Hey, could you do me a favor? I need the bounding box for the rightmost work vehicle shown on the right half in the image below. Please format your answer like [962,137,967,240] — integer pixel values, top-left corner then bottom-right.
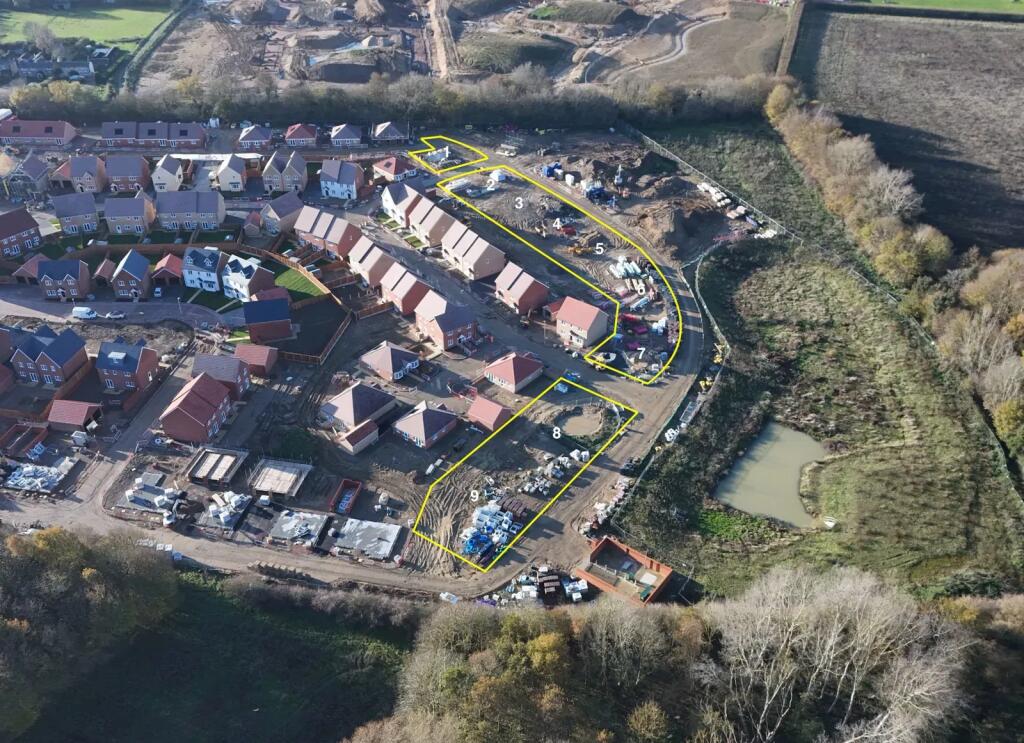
[705,337,726,356]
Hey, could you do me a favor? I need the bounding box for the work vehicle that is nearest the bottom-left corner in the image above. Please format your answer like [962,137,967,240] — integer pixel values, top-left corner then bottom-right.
[154,494,201,527]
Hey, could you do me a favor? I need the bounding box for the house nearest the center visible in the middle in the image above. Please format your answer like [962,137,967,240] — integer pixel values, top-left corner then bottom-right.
[484,353,540,395]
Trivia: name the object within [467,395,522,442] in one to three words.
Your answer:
building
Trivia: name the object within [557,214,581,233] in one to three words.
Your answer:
vehicle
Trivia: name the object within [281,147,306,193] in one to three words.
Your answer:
house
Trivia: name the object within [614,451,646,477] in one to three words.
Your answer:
truck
